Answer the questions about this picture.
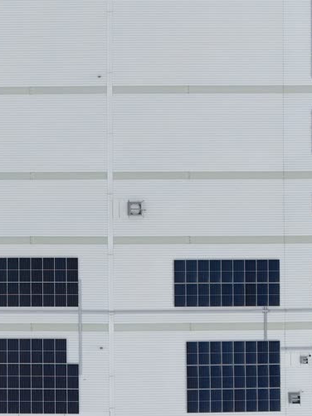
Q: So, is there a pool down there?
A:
No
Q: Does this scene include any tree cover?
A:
No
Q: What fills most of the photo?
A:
buildings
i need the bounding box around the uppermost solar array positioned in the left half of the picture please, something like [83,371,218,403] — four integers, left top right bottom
[0,257,78,306]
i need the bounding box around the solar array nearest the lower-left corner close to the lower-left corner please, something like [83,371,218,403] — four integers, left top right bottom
[0,339,79,414]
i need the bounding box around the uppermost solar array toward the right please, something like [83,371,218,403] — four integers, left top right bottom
[174,258,281,307]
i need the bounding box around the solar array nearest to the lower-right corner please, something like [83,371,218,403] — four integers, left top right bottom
[186,340,281,414]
